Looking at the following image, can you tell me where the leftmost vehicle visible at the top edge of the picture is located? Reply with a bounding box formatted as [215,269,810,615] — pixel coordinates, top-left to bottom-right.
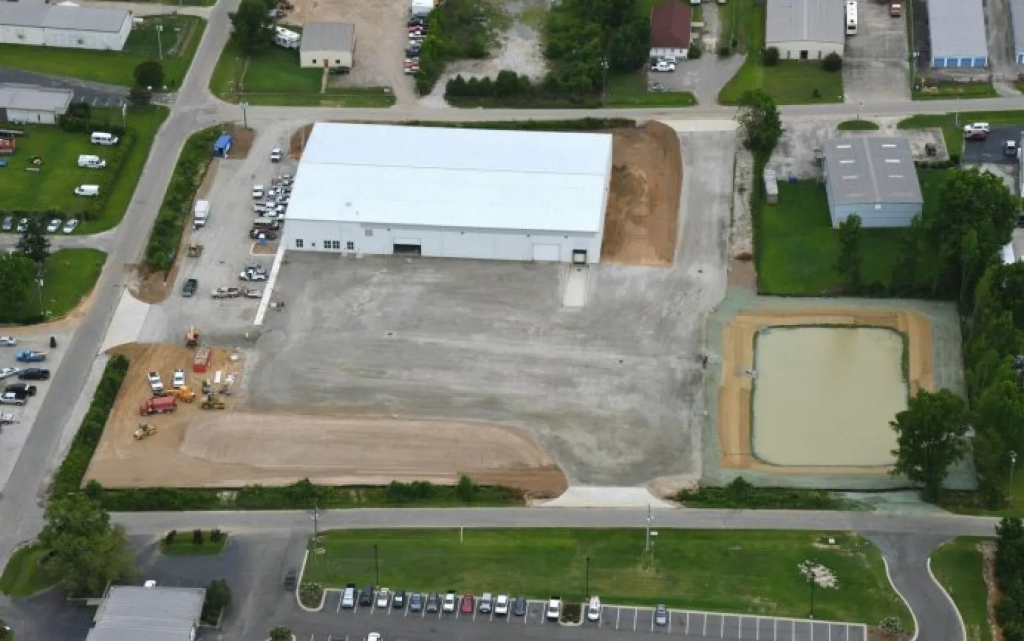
[271,29,300,48]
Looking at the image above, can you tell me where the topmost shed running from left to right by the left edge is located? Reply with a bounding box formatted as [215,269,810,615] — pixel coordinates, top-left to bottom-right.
[0,5,133,50]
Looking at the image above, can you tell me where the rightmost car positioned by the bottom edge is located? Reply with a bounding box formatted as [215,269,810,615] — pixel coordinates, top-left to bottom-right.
[654,602,669,623]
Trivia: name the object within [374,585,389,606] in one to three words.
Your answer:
car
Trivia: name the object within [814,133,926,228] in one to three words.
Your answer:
shed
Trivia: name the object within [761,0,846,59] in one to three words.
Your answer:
building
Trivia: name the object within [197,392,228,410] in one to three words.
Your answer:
work vehicle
